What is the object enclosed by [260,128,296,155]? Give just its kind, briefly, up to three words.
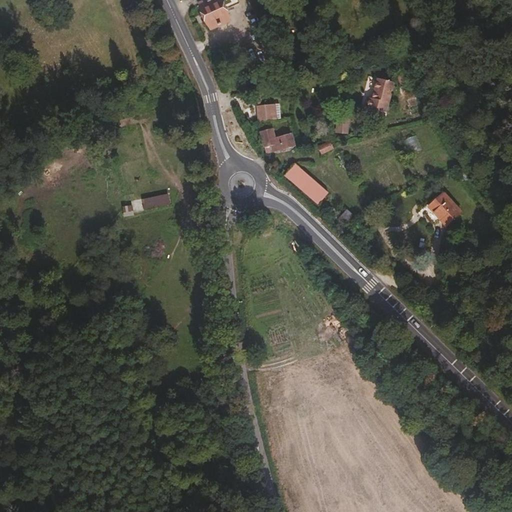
house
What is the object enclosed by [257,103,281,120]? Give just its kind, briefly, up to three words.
shed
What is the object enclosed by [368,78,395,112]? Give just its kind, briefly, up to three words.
house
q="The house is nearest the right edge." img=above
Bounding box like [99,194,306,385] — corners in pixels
[428,192,462,227]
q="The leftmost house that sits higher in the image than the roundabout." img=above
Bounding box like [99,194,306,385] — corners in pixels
[198,0,230,31]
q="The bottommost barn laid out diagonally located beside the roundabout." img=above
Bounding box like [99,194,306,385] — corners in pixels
[284,163,328,204]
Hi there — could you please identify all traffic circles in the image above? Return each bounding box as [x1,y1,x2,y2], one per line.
[214,144,271,222]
